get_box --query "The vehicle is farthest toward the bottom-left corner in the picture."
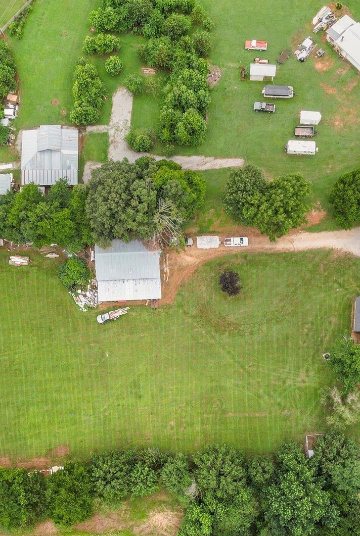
[97,308,121,324]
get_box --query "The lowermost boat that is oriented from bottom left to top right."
[299,41,318,61]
